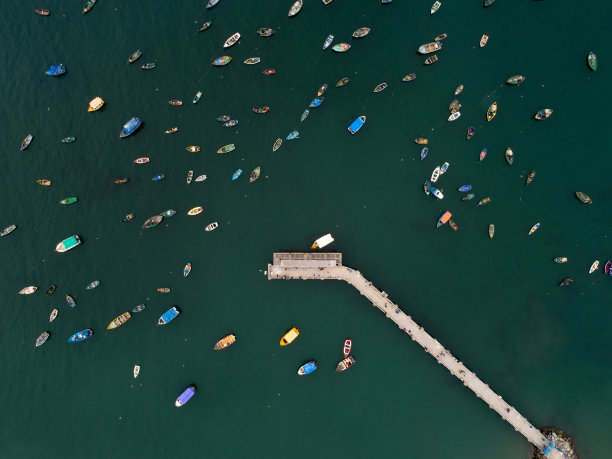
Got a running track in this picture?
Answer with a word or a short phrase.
No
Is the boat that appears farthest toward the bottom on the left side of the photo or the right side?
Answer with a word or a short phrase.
left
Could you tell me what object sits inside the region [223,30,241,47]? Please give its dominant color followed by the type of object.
white boat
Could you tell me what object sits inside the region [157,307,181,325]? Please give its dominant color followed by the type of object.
blue boat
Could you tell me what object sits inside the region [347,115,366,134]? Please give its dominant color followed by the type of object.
blue boat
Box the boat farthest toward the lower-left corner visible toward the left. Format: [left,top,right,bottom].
[35,332,50,347]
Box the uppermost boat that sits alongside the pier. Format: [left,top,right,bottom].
[312,232,335,249]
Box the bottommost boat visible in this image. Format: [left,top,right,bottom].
[175,384,197,407]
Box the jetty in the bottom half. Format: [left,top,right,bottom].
[268,252,571,459]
